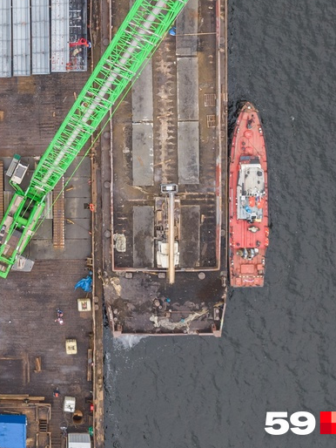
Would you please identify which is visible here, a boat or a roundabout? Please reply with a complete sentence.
Of the two, only a boat appears.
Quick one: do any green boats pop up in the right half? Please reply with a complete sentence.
No, there is no green boat in the right half.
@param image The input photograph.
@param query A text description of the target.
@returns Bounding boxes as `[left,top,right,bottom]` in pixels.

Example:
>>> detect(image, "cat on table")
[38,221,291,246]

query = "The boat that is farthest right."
[228,101,271,287]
